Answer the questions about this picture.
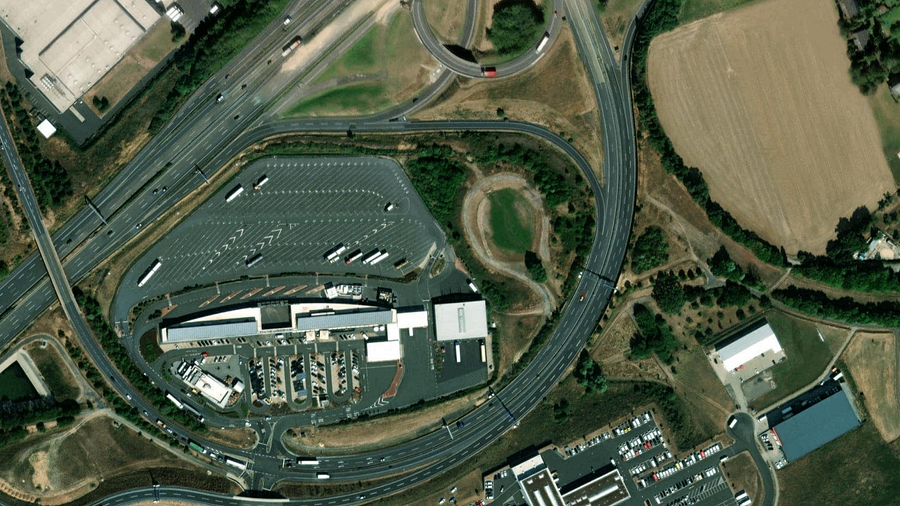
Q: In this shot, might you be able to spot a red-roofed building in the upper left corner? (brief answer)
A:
No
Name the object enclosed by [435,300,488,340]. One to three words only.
building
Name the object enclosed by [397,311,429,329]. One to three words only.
building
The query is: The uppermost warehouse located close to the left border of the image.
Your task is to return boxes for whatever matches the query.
[0,0,161,112]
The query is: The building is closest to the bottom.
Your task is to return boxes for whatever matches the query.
[512,455,631,506]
